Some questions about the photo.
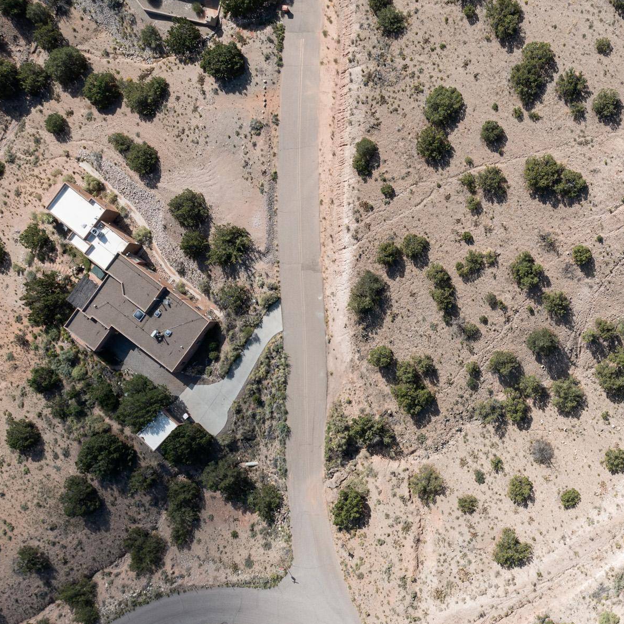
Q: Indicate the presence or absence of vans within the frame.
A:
No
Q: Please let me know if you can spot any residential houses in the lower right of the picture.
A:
No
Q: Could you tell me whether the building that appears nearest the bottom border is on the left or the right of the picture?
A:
left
